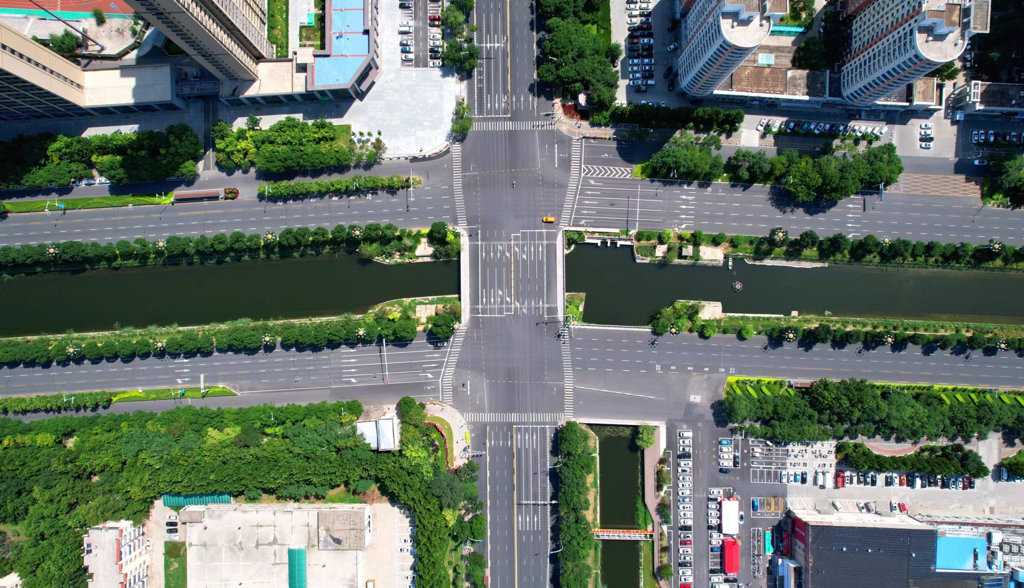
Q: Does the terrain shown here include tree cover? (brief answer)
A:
Yes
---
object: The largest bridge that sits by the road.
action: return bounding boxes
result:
[460,227,566,329]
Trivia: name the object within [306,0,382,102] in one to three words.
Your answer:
building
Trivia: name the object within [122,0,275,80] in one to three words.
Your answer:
building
